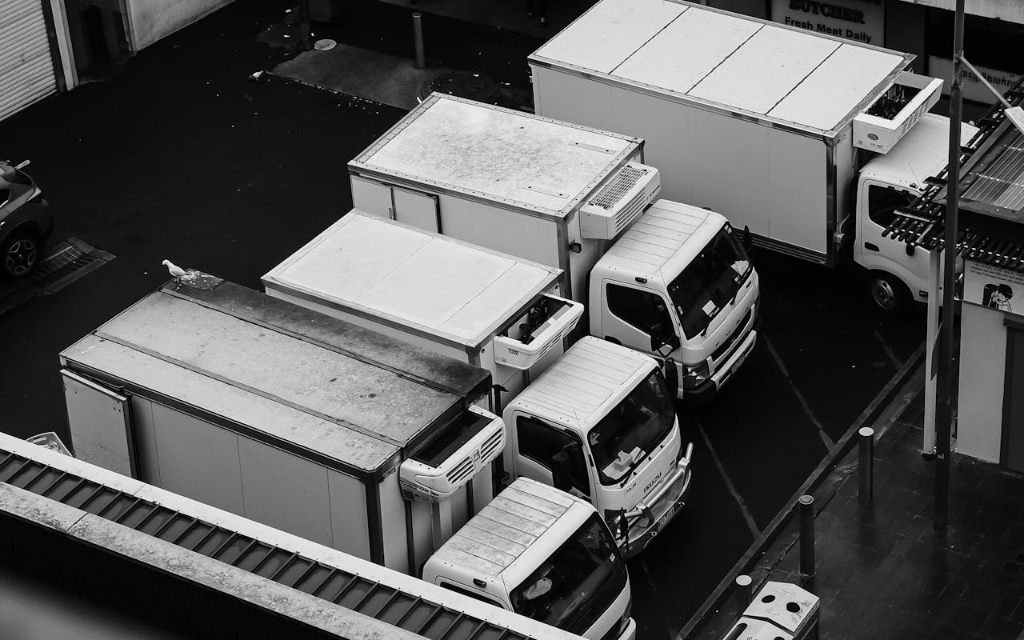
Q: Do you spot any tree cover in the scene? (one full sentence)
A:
No, there is no tree cover in the image.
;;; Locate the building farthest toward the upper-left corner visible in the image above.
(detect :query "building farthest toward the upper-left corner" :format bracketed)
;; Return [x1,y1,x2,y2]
[0,0,229,116]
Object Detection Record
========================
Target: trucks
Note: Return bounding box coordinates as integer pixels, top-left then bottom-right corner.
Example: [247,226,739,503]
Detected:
[52,266,648,640]
[259,207,704,567]
[526,0,1018,326]
[346,92,769,408]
